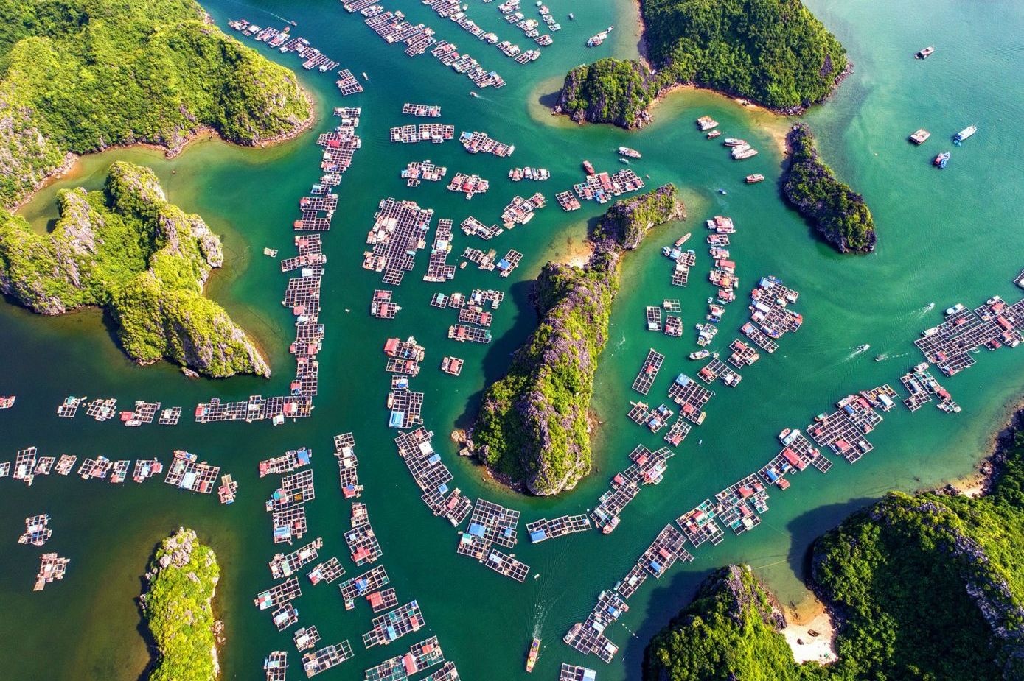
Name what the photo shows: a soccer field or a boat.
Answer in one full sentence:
This aerial view contains a boat.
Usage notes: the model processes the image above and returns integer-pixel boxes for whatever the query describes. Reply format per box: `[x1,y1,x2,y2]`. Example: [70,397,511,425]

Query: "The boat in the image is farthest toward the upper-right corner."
[914,45,936,58]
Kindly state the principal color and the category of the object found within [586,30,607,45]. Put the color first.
white boat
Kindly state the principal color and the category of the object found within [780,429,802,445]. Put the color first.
white boat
